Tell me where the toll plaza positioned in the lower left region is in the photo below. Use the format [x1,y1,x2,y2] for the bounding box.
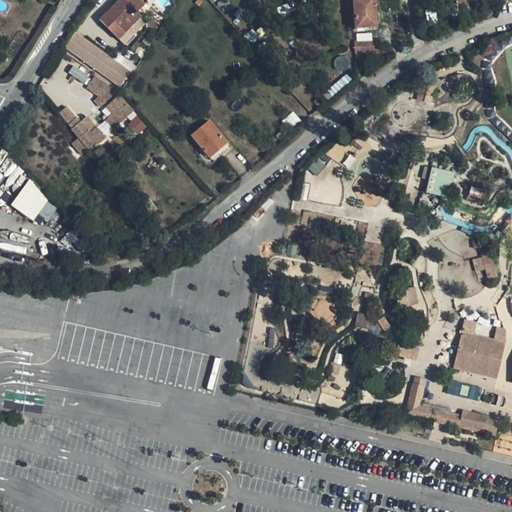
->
[4,350,44,414]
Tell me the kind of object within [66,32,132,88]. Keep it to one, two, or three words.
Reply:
barn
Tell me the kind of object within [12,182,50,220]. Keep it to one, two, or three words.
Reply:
shed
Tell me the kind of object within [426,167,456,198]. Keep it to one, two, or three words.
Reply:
building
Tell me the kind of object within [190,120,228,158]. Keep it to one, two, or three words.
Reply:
house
